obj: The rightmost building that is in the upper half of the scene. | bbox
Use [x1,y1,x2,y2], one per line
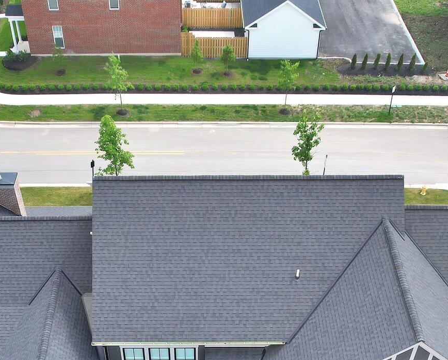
[242,0,326,58]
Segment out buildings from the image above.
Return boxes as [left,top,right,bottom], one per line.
[0,162,448,360]
[0,0,183,55]
[242,0,326,58]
